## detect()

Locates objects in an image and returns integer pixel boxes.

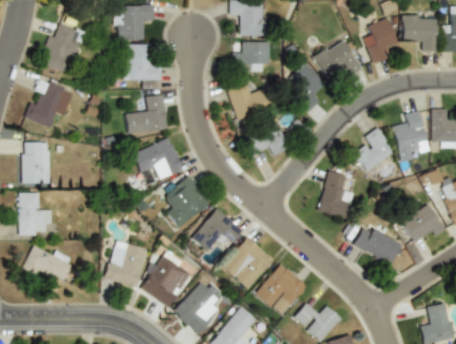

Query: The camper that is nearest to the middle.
[226,156,243,174]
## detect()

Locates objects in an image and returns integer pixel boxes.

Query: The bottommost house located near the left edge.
[22,246,72,281]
